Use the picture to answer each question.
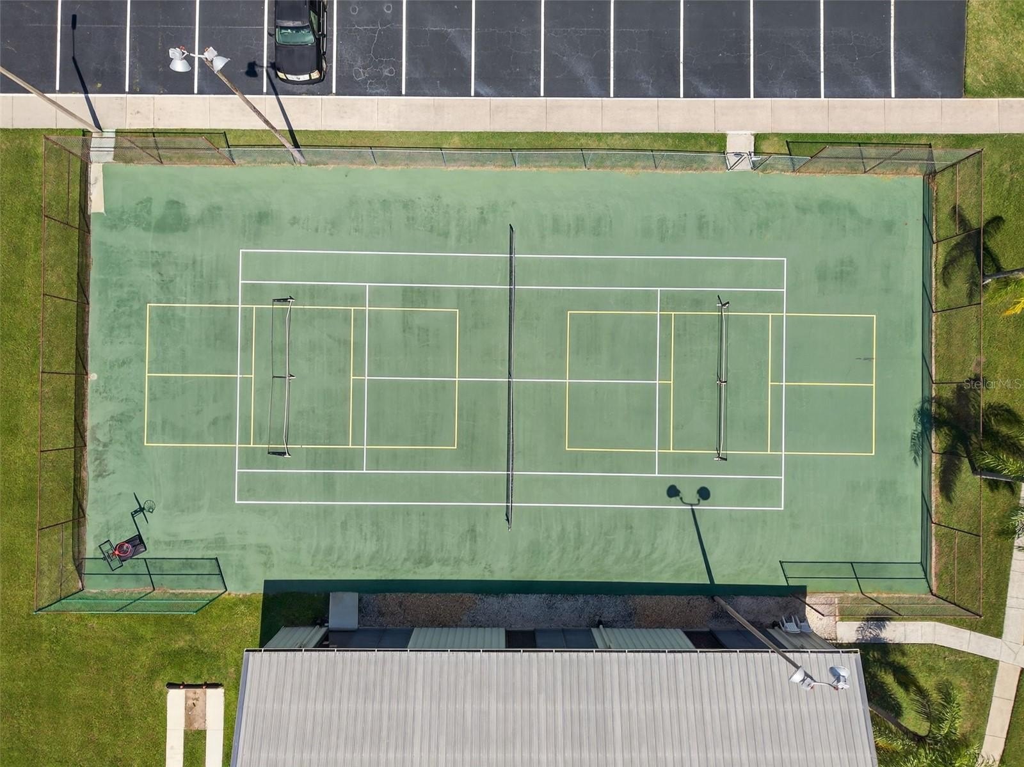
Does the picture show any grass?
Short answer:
Yes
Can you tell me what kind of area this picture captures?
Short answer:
sports ground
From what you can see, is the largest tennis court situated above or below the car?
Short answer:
below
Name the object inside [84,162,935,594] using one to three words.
tennis court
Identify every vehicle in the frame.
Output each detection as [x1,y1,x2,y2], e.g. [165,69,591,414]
[267,0,329,87]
